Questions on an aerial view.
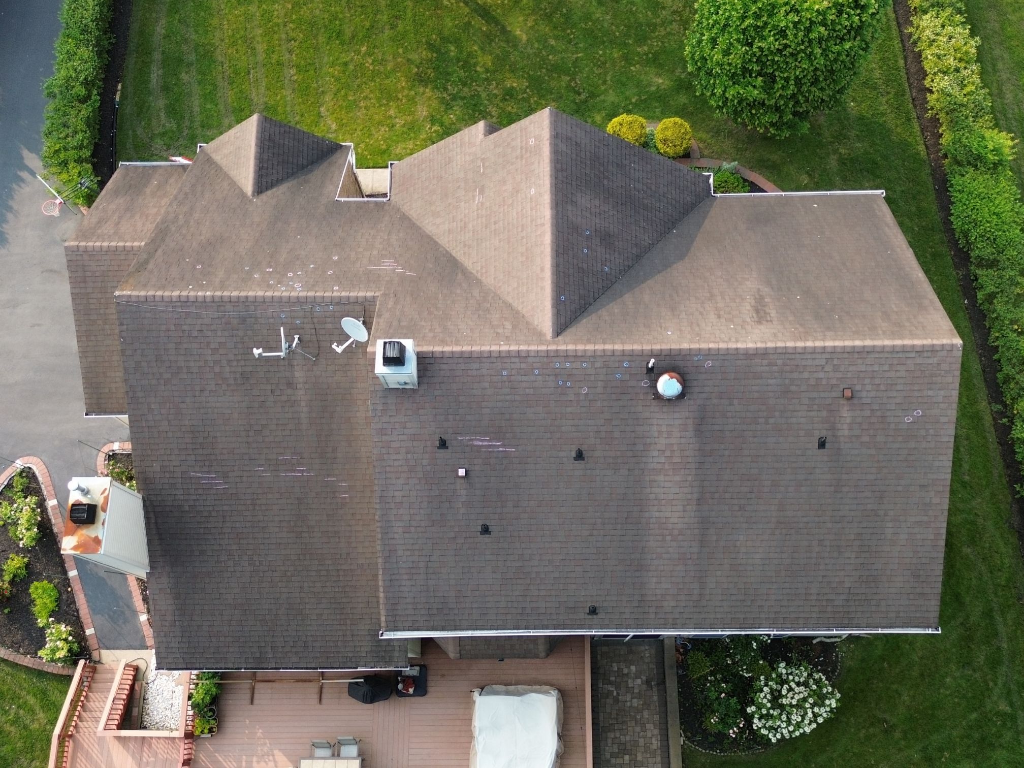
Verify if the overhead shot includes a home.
Yes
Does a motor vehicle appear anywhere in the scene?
No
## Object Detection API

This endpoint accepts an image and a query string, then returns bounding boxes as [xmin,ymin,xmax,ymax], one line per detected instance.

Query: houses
[62,108,962,673]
